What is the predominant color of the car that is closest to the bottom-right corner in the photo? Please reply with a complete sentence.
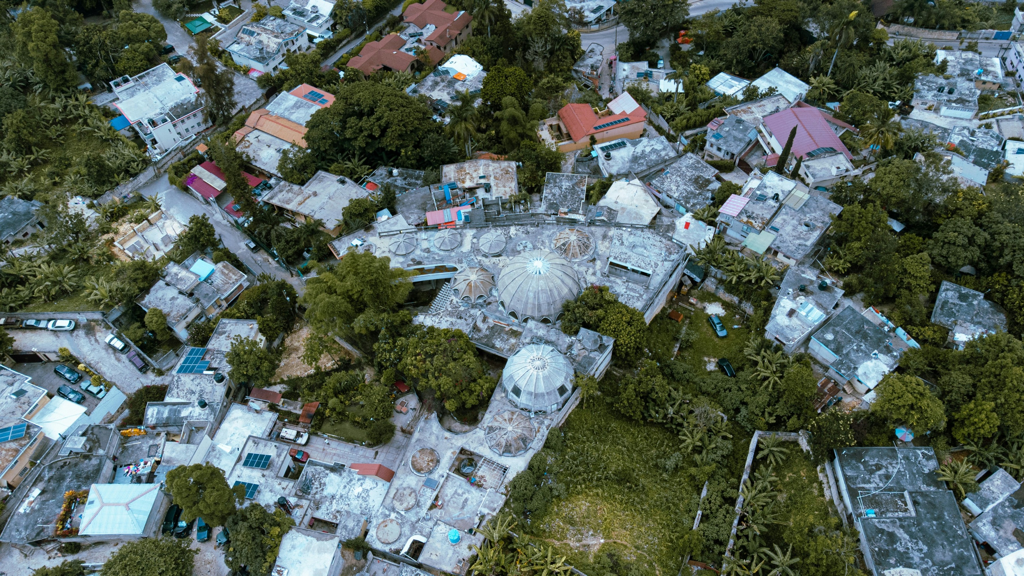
In this view, the car that is closest to the bottom-right corner is black.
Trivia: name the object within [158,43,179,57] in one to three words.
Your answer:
car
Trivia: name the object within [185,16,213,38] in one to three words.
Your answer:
building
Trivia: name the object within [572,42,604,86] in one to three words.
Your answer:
house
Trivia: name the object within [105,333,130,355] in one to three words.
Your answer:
car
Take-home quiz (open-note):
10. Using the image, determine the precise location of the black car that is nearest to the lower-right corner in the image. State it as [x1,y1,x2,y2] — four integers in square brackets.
[715,354,740,379]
